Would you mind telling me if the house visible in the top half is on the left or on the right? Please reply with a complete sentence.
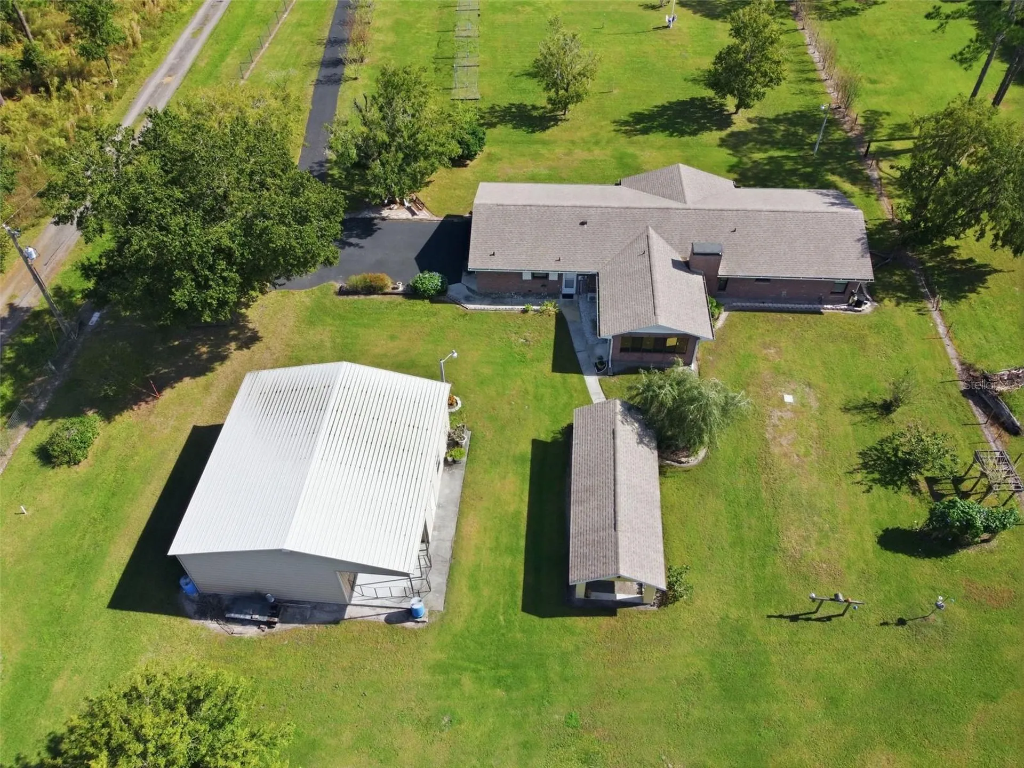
The house visible in the top half sits on the right side.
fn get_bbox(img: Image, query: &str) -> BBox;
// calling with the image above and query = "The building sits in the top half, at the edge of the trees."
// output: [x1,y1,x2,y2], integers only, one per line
[468,162,874,368]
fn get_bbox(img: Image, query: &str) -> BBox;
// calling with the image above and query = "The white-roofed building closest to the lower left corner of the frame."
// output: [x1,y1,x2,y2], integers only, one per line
[167,361,451,606]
